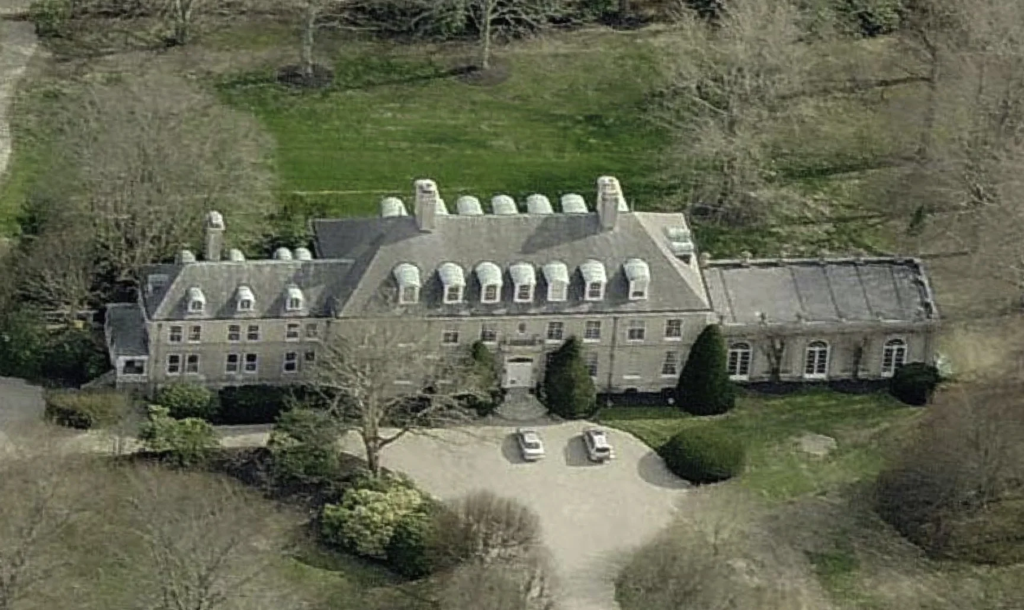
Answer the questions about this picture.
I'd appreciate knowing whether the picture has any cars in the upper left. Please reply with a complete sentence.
No, no car is visible in the upper left.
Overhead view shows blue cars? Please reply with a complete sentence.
No, this view has no blue car in it.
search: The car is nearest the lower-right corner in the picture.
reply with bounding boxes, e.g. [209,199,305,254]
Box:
[584,430,616,462]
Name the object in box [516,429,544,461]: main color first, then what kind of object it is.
white car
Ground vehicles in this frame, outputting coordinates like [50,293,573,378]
[584,430,616,462]
[516,429,544,461]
